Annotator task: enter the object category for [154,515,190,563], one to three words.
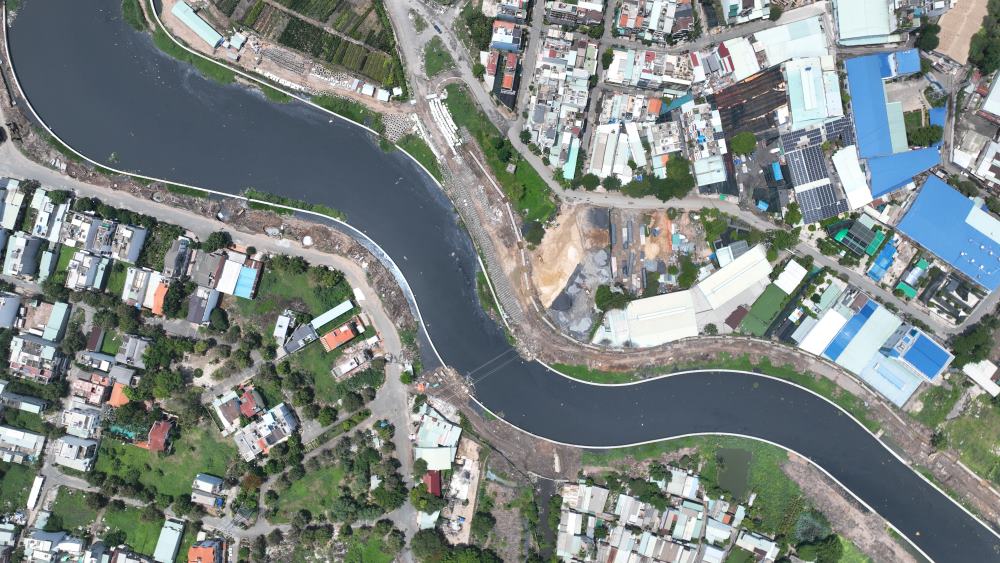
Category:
shed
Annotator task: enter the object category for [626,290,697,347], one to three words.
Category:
building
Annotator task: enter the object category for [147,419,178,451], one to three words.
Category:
house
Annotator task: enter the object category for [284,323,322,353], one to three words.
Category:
house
